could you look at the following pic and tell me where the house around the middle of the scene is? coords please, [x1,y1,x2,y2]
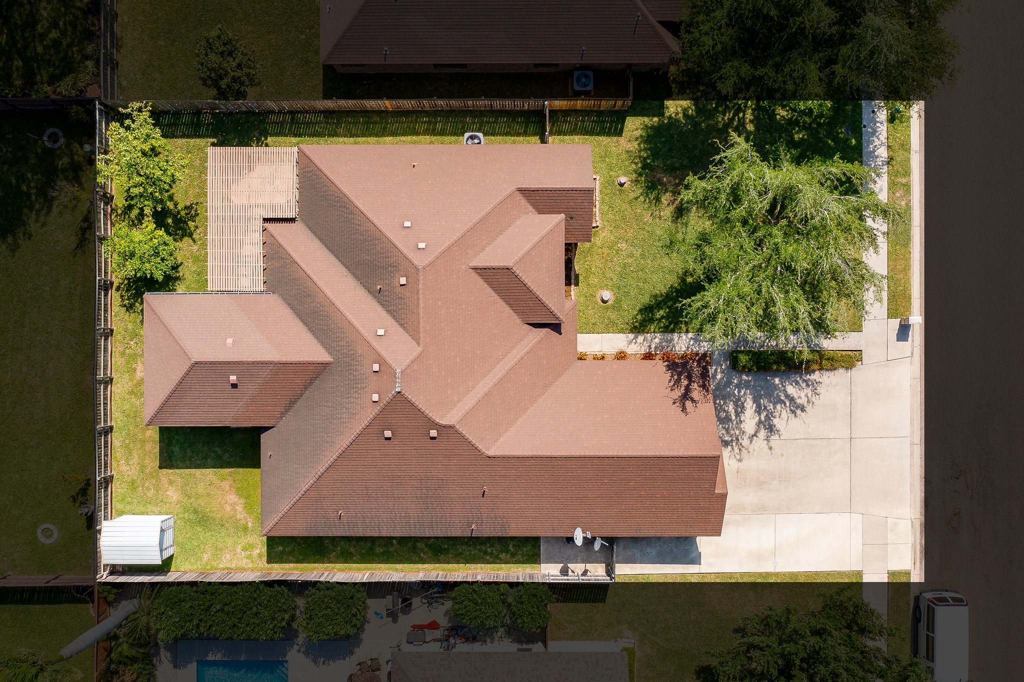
[143,142,727,539]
